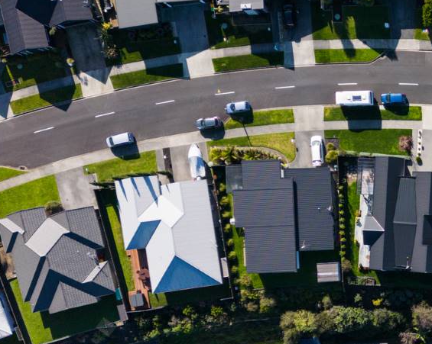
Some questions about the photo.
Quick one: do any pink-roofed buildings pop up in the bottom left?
No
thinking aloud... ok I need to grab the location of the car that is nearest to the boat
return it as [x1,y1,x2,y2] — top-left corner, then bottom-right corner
[195,116,223,132]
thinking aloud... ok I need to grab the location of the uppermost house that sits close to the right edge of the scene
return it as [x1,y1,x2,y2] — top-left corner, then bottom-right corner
[362,157,432,275]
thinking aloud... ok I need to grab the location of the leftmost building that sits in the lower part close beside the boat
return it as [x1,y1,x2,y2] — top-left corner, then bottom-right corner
[114,176,224,294]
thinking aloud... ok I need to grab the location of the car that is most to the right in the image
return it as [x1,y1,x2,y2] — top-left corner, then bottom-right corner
[379,91,407,106]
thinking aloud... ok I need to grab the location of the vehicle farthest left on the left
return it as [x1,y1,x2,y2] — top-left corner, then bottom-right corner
[108,134,135,148]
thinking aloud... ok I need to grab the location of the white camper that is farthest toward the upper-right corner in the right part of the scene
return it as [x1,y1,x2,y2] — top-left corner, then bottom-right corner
[336,90,375,107]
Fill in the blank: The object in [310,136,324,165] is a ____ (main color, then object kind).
white car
